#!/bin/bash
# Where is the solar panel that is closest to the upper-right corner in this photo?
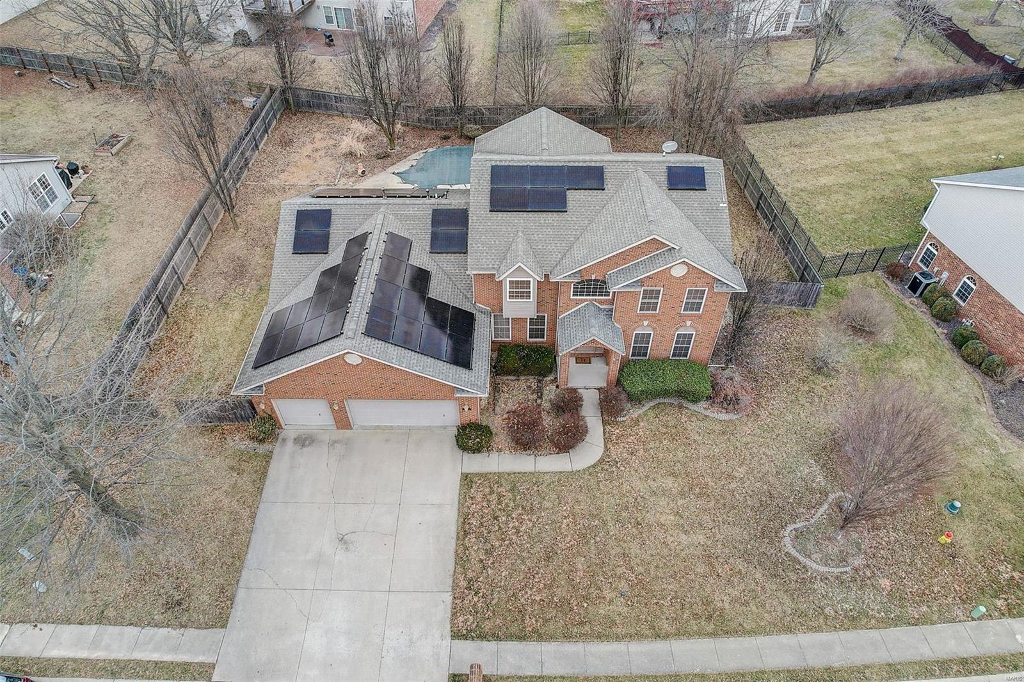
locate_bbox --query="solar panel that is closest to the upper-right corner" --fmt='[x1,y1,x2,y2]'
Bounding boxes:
[667,167,705,192]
